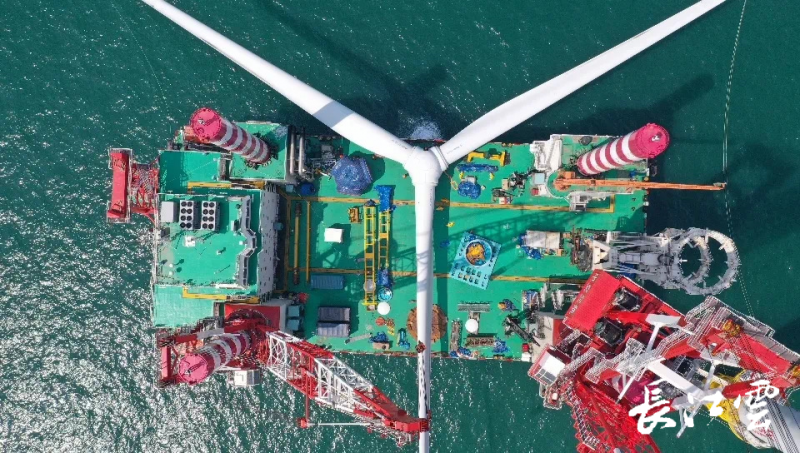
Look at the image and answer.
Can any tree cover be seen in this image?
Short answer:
No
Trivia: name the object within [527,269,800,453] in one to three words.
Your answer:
crane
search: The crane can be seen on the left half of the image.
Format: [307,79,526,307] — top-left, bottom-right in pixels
[152,305,438,444]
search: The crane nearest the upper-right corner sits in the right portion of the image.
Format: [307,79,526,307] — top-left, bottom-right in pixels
[546,171,731,195]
